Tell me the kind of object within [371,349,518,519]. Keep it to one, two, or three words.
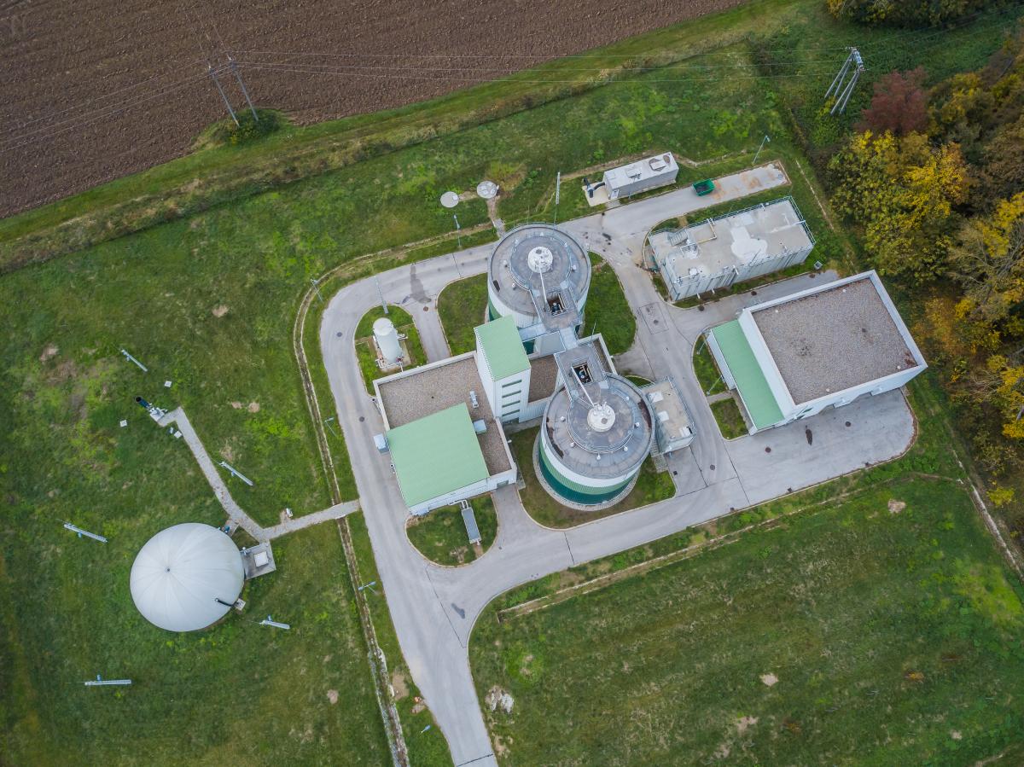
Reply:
building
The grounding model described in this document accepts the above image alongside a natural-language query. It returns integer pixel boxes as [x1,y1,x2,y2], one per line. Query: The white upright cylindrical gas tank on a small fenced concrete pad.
[374,325,406,372]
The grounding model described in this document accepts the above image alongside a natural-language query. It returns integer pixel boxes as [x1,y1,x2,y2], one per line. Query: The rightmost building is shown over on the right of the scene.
[707,268,928,436]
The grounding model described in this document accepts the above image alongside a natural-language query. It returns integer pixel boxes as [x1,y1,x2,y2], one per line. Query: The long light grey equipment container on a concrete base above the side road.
[601,152,680,205]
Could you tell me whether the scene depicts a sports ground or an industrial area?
industrial area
